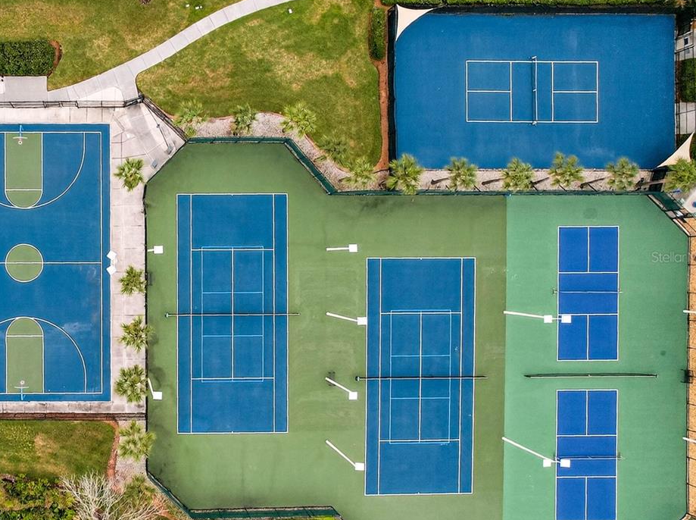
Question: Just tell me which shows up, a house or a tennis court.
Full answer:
I can see a tennis court in this picture.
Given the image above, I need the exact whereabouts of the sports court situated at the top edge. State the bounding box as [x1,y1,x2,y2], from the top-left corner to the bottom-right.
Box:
[395,13,676,168]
